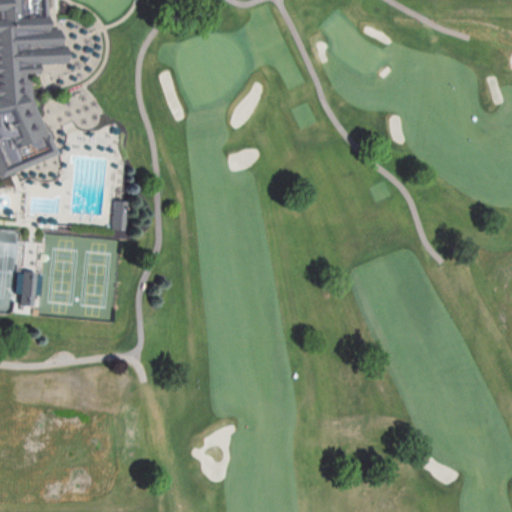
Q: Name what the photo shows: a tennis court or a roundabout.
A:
tennis court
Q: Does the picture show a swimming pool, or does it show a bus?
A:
swimming pool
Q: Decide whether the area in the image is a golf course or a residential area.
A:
golf course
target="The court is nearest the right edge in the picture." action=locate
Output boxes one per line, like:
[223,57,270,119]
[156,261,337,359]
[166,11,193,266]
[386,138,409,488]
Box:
[76,238,118,321]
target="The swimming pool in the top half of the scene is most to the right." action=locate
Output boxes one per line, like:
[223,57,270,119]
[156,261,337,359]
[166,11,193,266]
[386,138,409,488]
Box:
[70,156,106,222]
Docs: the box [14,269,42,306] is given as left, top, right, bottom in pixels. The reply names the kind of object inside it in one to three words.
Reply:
building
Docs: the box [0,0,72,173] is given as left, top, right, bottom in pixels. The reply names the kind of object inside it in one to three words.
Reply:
building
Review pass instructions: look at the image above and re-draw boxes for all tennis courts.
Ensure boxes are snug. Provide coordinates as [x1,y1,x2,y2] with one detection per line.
[40,235,81,318]
[76,238,118,321]
[0,232,16,314]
